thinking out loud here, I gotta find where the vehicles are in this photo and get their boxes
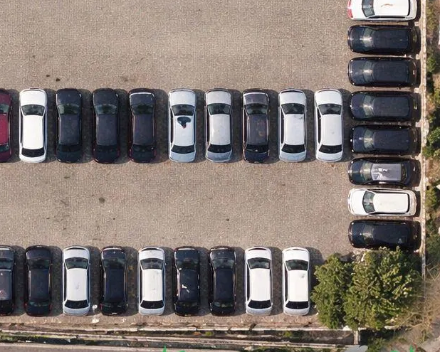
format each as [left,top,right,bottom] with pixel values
[208,244,238,317]
[23,245,52,318]
[0,87,13,164]
[347,187,420,218]
[282,244,313,317]
[347,55,420,89]
[346,157,419,187]
[204,89,235,165]
[277,86,309,163]
[138,244,168,317]
[240,89,271,164]
[0,245,16,318]
[347,218,419,250]
[314,89,345,164]
[347,23,420,55]
[245,244,274,317]
[172,244,202,317]
[168,89,198,164]
[349,90,420,123]
[90,87,121,164]
[127,87,157,164]
[62,244,91,317]
[347,0,420,21]
[98,245,128,318]
[18,86,48,163]
[349,124,420,157]
[54,87,84,164]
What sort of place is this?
parking lot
